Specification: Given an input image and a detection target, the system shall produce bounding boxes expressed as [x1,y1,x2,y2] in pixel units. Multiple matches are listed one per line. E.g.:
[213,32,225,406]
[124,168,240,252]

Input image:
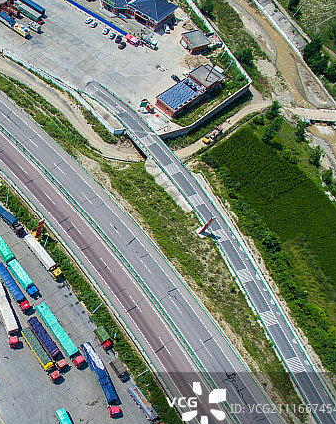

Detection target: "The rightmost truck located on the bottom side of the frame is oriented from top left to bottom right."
[125,384,161,424]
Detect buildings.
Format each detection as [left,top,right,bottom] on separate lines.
[155,62,225,119]
[178,29,212,58]
[100,0,179,30]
